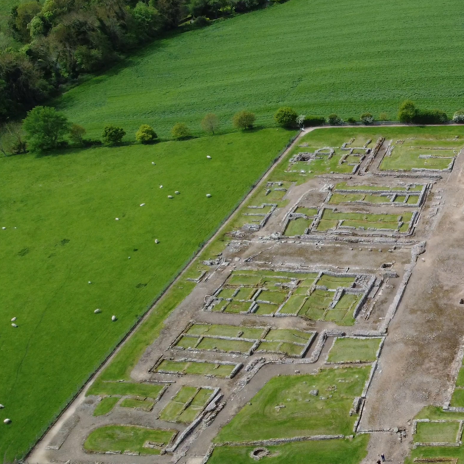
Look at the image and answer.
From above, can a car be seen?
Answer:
No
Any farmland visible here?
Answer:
Yes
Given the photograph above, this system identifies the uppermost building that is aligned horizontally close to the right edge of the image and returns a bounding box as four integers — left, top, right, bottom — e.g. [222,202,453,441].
[381,137,463,174]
